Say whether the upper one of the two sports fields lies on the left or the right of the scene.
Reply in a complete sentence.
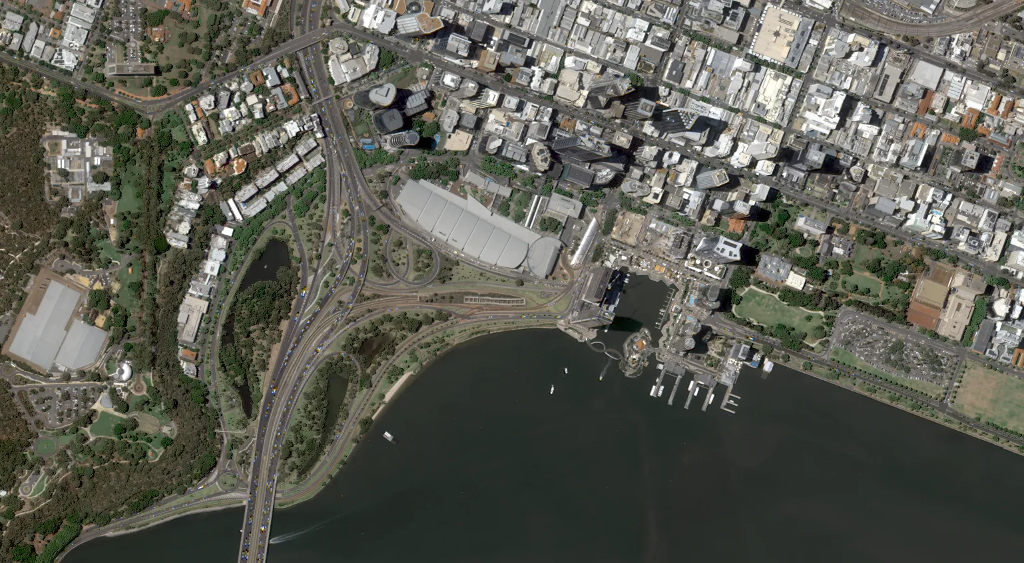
You can find the upper one of the two sports fields on the right side of the picture.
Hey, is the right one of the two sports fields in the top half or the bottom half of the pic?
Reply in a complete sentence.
The bottom half of the photo is where the right one of the two sports fields is.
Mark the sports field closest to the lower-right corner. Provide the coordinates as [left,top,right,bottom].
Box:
[953,358,1024,426]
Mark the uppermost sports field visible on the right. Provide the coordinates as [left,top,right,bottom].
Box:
[734,288,829,344]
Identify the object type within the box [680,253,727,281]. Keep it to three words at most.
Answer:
building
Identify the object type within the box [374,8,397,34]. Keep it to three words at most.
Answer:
building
